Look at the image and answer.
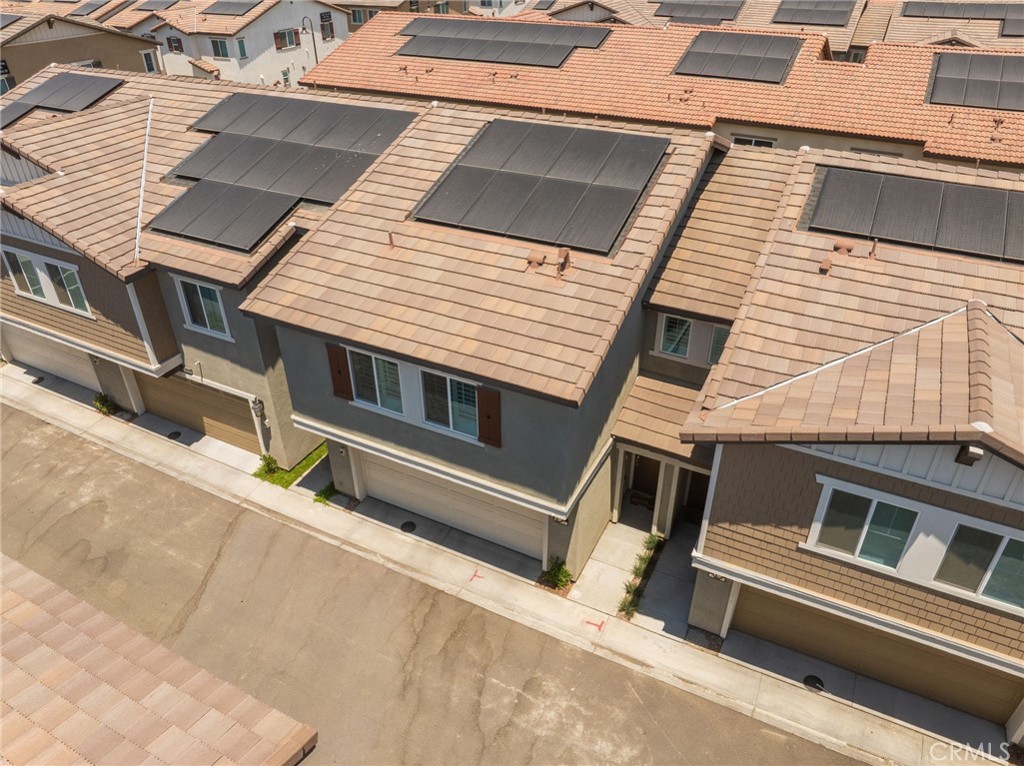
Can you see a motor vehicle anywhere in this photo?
No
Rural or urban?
urban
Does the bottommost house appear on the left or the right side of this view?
left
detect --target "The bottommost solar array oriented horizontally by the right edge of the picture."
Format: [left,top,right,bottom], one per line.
[807,169,1024,266]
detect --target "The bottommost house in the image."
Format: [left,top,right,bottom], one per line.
[0,554,321,766]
